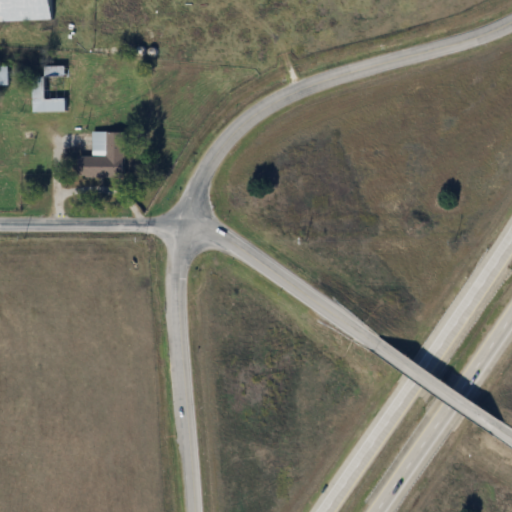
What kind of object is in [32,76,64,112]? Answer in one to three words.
shed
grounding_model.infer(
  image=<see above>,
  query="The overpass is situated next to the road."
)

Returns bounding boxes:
[371,336,509,438]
